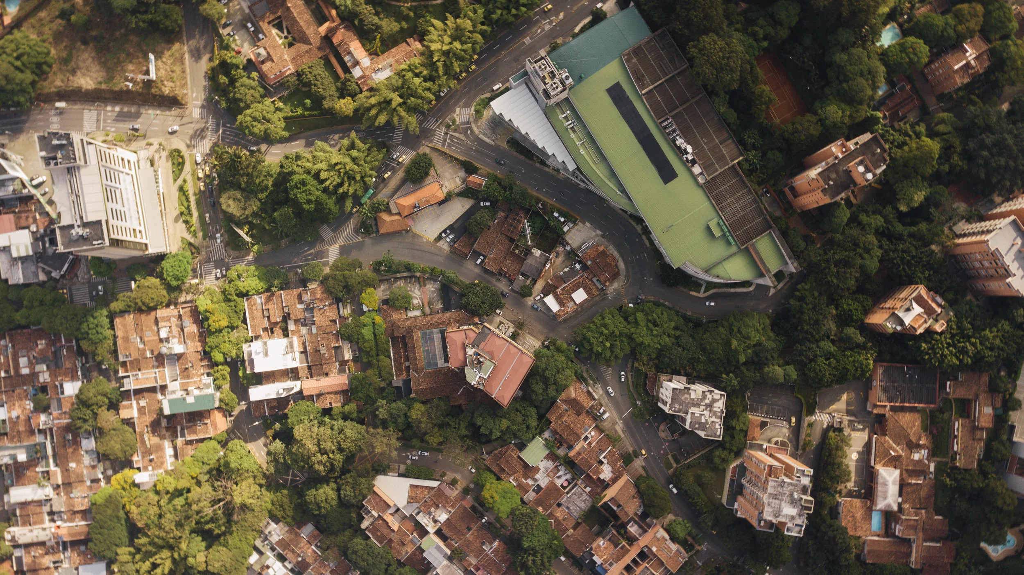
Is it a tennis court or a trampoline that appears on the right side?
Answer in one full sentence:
Visible on the right side is a tennis court.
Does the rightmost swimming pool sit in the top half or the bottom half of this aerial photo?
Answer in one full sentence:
The rightmost swimming pool is in the bottom half of the image.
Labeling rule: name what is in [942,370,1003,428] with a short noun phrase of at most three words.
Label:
house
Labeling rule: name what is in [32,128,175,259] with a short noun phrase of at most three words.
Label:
building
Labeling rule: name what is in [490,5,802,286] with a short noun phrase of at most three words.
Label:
building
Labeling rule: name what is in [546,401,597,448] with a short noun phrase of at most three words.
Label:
house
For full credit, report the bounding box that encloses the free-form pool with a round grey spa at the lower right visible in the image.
[981,525,1024,560]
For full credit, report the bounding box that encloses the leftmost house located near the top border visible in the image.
[248,0,331,88]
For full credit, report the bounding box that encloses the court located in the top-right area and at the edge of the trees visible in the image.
[757,55,803,119]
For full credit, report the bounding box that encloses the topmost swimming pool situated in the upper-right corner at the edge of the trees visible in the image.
[875,22,903,48]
